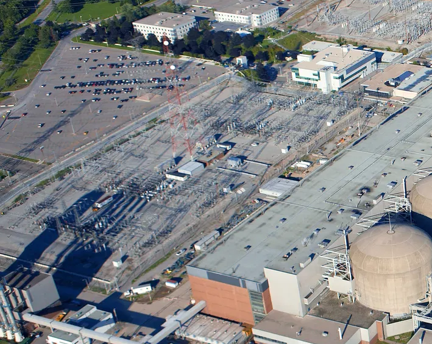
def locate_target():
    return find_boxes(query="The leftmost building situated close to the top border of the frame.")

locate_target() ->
[133,11,202,42]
